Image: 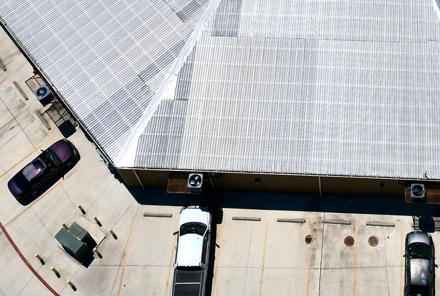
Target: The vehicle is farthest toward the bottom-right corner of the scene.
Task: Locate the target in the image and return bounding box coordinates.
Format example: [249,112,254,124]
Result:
[402,233,438,296]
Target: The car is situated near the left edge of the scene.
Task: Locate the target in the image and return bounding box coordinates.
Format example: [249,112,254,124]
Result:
[7,142,80,202]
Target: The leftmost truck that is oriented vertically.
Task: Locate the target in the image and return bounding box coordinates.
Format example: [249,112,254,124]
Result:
[172,205,212,296]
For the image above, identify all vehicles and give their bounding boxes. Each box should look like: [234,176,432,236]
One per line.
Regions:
[7,142,80,202]
[402,233,438,296]
[172,205,212,296]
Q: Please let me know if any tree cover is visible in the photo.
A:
No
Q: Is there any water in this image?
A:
No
